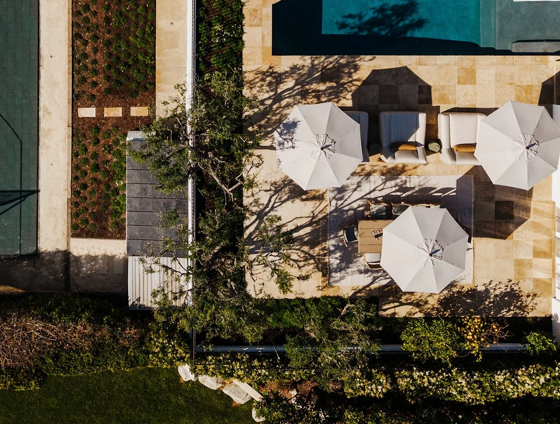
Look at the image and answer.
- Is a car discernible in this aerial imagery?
No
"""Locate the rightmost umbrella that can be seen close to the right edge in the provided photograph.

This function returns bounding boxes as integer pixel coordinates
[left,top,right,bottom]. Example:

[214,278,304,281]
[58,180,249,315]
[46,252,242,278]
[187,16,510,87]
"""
[474,101,560,192]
